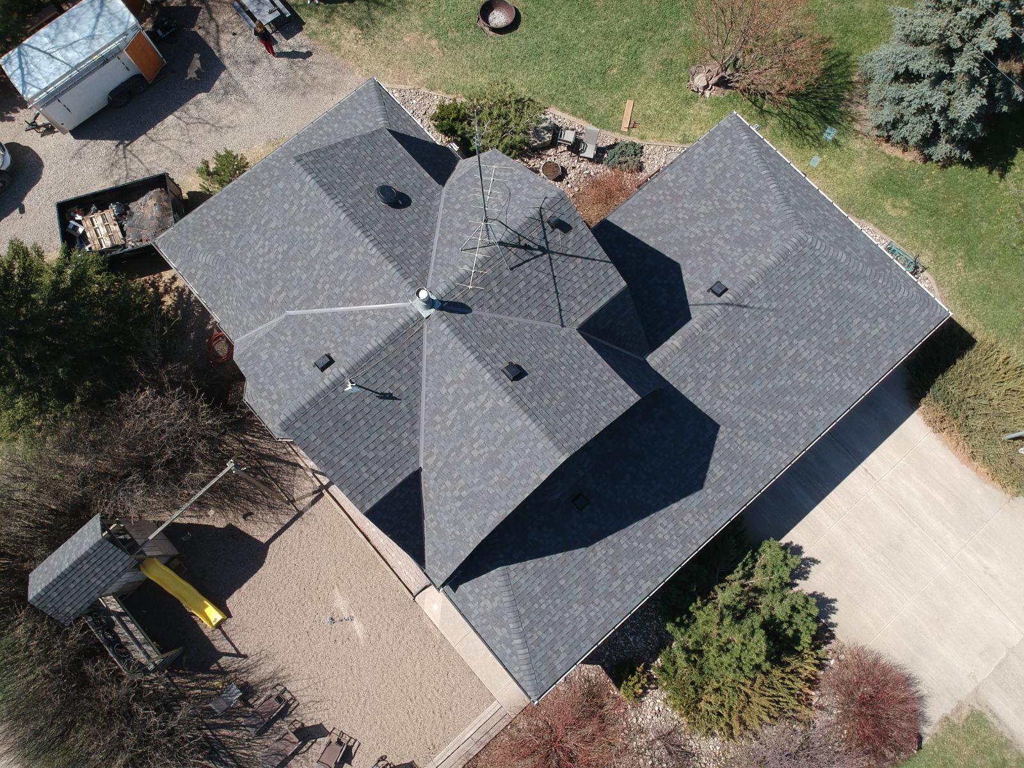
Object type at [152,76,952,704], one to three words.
house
